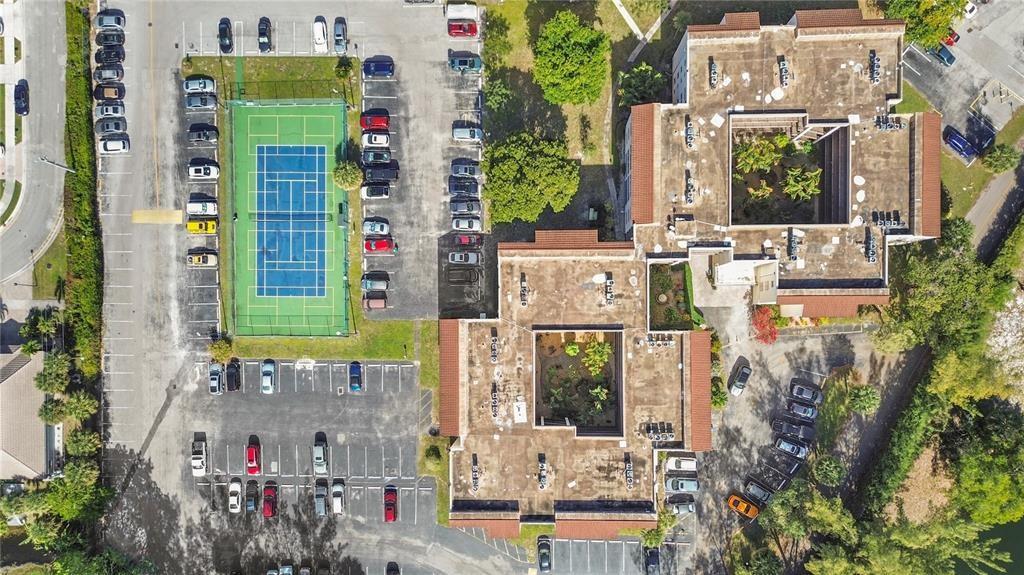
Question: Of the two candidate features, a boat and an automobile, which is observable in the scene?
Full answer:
There is an automobile in the scene.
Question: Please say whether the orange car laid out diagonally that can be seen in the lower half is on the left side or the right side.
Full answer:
The orange car laid out diagonally that can be seen in the lower half appears in the right half of the scene.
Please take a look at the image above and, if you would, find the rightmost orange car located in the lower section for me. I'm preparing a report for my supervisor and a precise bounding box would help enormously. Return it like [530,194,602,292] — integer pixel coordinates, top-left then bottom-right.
[727,494,758,518]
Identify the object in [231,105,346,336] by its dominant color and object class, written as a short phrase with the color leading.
green tennis court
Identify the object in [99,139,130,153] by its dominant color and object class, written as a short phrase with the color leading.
white car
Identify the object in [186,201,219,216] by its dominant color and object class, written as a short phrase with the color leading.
white vehicle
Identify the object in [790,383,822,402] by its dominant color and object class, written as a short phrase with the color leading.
gray car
